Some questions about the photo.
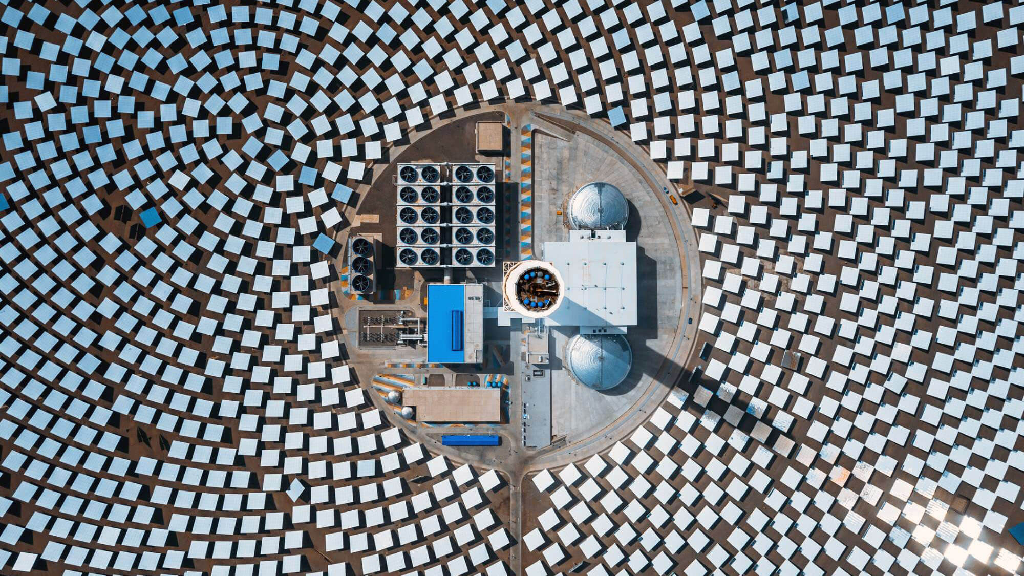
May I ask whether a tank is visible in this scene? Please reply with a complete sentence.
Yes, a tank appears in the view.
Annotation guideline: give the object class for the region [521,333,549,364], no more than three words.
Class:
house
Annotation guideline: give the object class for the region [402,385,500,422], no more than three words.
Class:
building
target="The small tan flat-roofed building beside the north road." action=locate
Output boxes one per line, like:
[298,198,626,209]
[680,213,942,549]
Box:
[475,122,504,153]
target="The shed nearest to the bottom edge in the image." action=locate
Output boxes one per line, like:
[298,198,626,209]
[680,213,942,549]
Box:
[442,434,500,446]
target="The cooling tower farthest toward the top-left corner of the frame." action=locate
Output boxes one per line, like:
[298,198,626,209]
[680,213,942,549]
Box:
[348,236,377,294]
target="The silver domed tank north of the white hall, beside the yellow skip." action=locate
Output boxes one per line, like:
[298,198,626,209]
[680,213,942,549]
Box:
[565,181,628,230]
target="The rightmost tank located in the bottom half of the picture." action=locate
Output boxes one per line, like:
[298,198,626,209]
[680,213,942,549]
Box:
[563,328,632,390]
